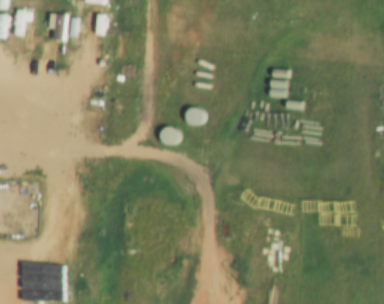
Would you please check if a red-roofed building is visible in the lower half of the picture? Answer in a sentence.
No, looking in the lower half of the picture, there is no red-roofed building.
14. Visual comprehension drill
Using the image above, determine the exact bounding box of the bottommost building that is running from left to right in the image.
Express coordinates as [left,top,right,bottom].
[22,288,68,304]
